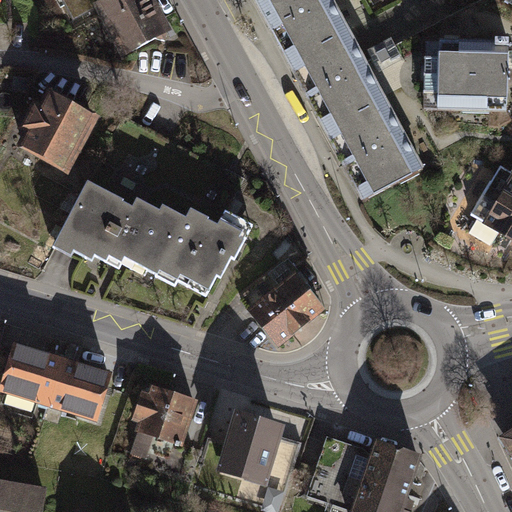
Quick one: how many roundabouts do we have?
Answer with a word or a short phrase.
1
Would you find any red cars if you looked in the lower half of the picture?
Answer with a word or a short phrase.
No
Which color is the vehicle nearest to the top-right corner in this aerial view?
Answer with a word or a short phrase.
yellow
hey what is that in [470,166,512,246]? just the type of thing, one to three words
house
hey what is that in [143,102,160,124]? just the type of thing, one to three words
vehicle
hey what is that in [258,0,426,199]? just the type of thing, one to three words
building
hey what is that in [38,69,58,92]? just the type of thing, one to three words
car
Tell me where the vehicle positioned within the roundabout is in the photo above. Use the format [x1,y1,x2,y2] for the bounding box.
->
[410,301,432,316]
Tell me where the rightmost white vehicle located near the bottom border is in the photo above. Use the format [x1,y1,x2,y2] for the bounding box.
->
[494,467,511,490]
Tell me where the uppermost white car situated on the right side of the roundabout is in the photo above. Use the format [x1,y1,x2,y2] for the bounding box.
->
[476,308,496,321]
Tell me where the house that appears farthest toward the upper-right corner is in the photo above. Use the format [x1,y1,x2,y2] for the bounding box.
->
[424,36,510,114]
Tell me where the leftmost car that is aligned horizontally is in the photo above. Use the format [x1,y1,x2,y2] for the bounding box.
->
[84,351,105,364]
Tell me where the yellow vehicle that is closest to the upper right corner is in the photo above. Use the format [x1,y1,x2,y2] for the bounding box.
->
[285,89,308,124]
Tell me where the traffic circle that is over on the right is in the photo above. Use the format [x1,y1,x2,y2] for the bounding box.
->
[326,290,468,431]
